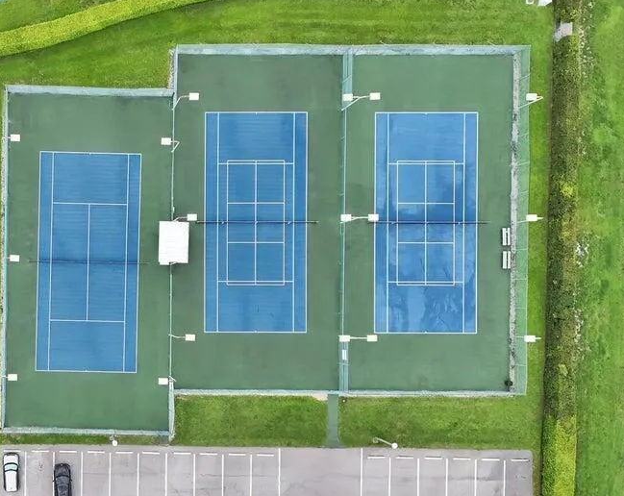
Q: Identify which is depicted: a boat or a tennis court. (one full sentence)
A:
Of the two, only a tennis court appears.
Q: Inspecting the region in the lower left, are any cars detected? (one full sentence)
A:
Yes, the scene does show a car in the lower left.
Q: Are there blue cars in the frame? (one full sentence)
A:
No, there appears to be no blue car in this shot.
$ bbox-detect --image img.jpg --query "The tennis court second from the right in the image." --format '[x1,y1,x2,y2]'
[171,55,342,390]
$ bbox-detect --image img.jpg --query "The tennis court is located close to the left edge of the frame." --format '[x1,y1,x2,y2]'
[4,93,173,430]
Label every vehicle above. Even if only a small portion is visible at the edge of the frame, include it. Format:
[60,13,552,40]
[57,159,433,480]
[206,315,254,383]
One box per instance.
[51,462,73,496]
[1,451,20,493]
